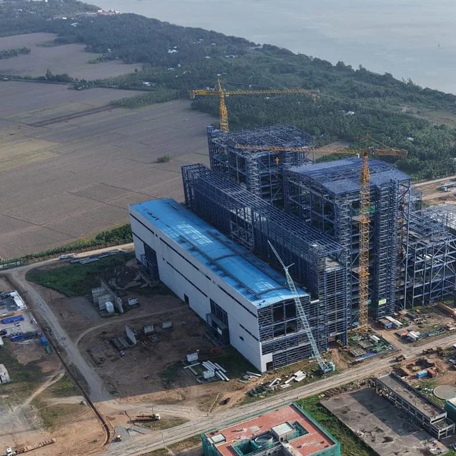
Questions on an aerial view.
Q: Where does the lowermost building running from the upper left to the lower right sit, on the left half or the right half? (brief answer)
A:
right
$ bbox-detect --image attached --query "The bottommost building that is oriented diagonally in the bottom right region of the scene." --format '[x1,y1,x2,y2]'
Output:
[375,372,456,440]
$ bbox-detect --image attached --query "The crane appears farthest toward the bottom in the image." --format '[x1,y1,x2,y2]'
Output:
[266,239,338,370]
